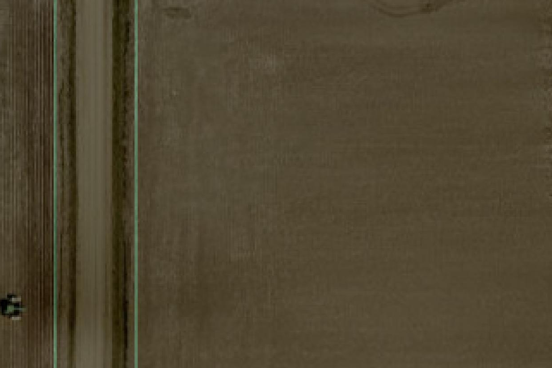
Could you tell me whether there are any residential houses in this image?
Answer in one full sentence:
No, there isn't any residential house down there.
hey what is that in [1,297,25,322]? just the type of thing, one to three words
work vehicle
